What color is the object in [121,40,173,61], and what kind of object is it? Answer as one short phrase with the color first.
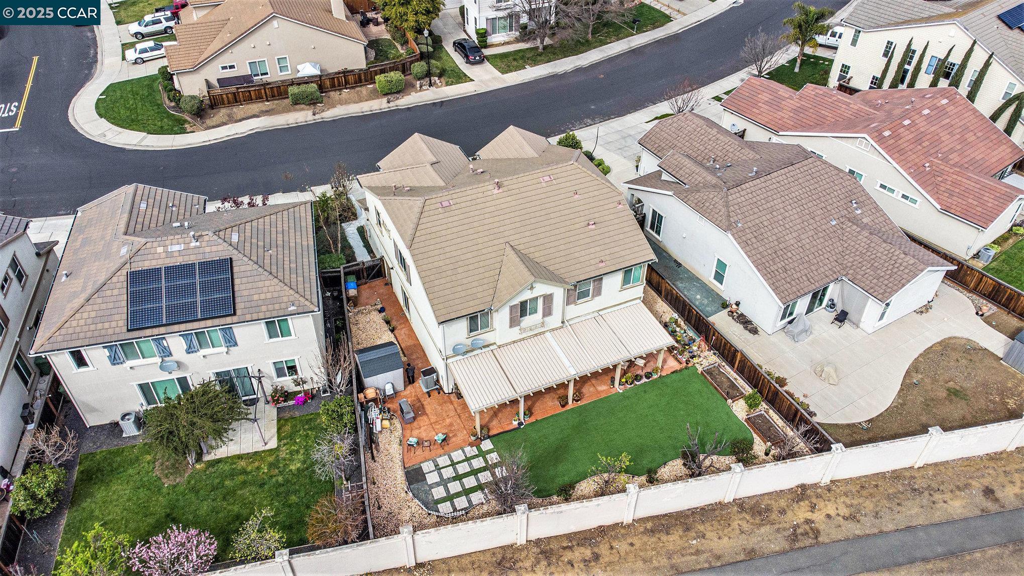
white car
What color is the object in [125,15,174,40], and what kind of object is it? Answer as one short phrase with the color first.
white car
